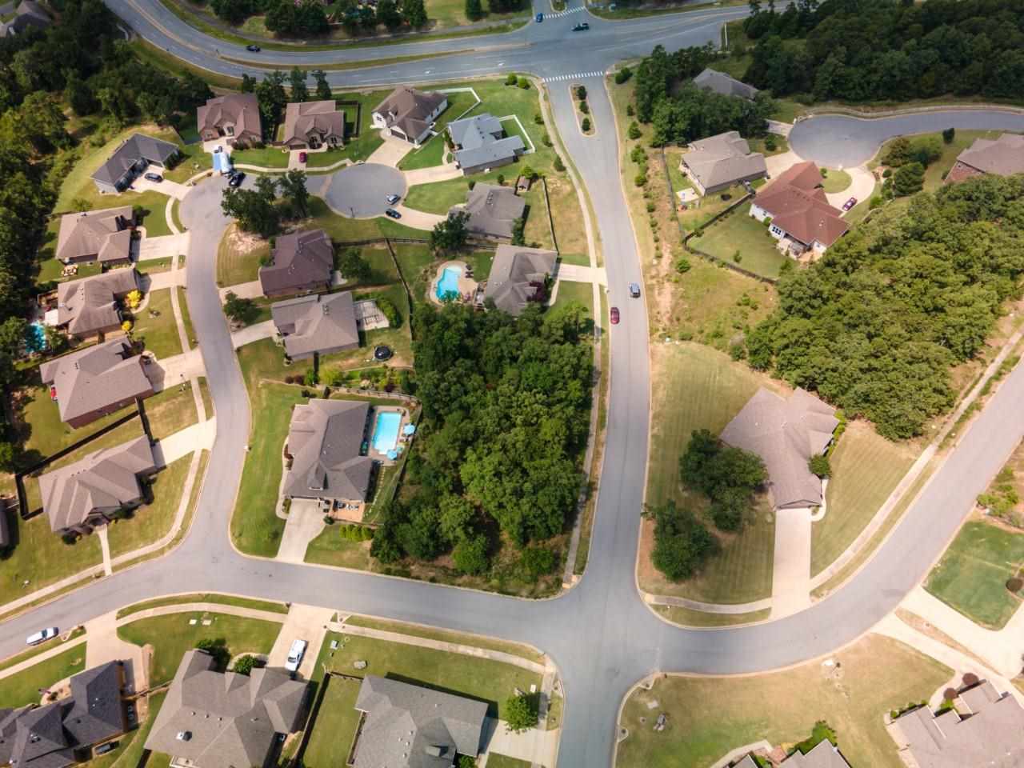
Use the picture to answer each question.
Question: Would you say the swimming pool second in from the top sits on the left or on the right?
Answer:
left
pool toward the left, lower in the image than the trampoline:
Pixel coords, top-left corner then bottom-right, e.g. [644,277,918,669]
[369,406,409,465]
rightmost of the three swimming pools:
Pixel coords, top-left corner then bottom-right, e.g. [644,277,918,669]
[429,260,478,306]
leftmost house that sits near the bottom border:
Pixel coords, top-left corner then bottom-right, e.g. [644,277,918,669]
[0,661,128,768]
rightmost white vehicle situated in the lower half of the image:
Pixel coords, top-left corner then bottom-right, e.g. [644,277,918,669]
[287,638,307,671]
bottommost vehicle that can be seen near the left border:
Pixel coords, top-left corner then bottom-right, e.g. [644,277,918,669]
[25,625,59,647]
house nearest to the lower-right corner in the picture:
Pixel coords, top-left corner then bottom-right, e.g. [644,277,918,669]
[892,679,1024,768]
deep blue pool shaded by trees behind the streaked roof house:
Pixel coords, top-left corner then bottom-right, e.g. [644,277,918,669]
[21,307,50,359]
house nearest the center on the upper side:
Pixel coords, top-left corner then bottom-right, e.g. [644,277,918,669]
[477,243,558,320]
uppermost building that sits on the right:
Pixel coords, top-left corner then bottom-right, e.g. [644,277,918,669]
[694,68,759,110]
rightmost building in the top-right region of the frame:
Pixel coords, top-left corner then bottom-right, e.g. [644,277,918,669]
[954,124,1024,180]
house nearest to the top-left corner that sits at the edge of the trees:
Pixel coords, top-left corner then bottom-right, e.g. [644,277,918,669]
[4,0,70,38]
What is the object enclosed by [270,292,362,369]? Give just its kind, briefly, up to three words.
house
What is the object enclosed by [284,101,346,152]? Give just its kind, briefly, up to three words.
house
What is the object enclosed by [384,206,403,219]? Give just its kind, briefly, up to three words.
vehicle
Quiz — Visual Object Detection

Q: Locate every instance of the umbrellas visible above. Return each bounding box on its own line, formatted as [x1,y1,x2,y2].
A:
[385,448,399,460]
[402,423,416,435]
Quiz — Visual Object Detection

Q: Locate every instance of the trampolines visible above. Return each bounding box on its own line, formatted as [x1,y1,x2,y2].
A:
[372,344,393,362]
